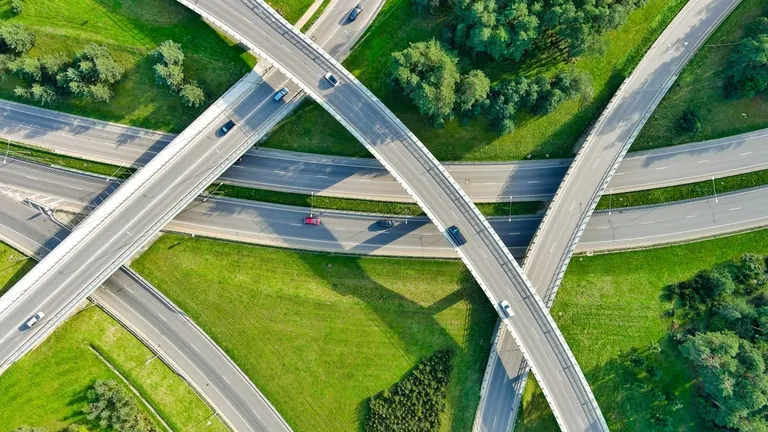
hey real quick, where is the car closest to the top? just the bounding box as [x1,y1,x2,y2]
[348,4,362,20]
